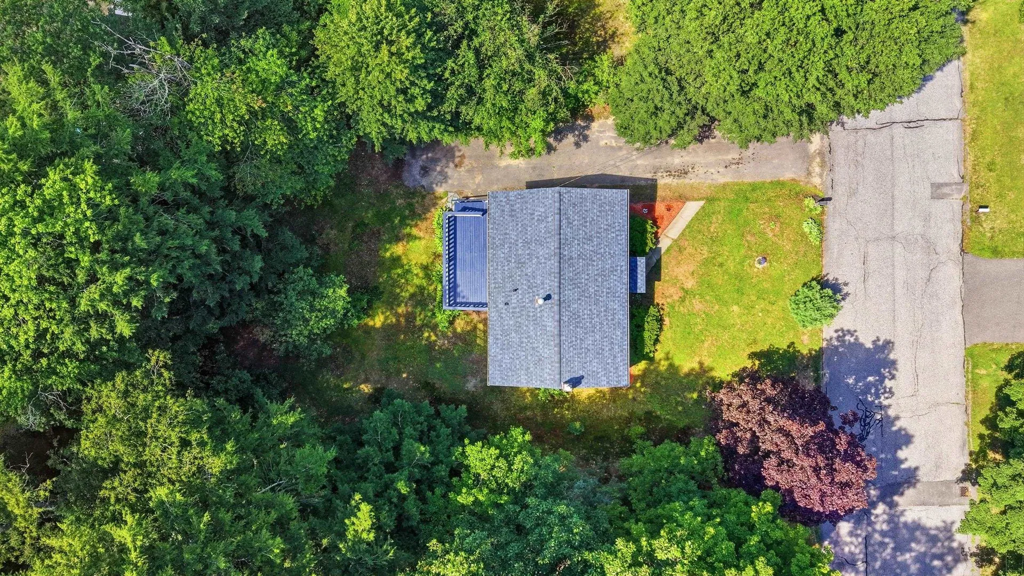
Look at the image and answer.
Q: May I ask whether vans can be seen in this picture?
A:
No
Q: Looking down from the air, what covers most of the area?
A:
trees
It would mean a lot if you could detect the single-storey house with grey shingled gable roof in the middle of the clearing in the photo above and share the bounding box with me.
[486,189,646,395]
